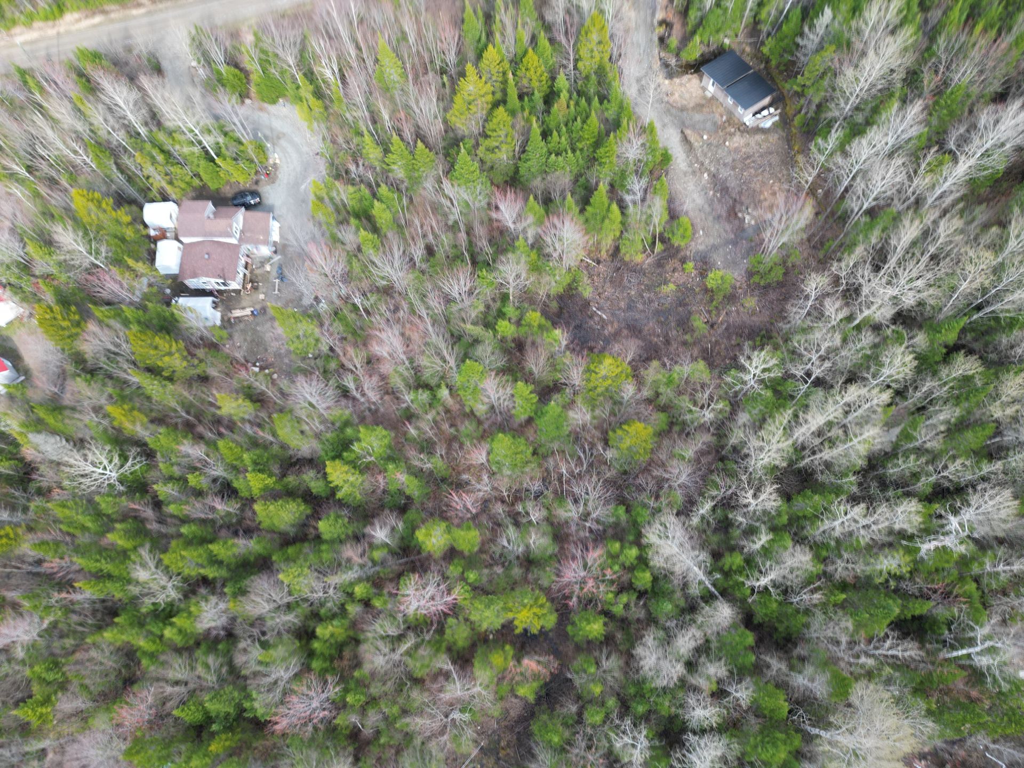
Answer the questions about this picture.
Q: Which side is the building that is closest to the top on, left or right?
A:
right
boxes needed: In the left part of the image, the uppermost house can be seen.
[171,202,275,290]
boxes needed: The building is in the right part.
[700,51,777,123]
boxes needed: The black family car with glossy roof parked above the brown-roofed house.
[229,189,260,206]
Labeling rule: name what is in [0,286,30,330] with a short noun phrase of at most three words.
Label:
shed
